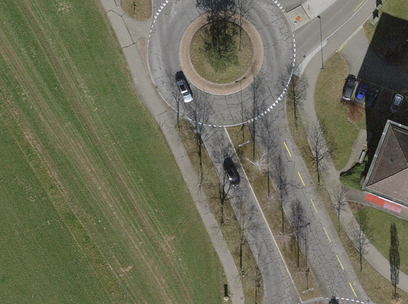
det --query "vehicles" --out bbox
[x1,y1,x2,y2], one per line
[355,82,368,103]
[342,78,356,102]
[224,162,240,185]
[390,92,404,114]
[177,79,194,103]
